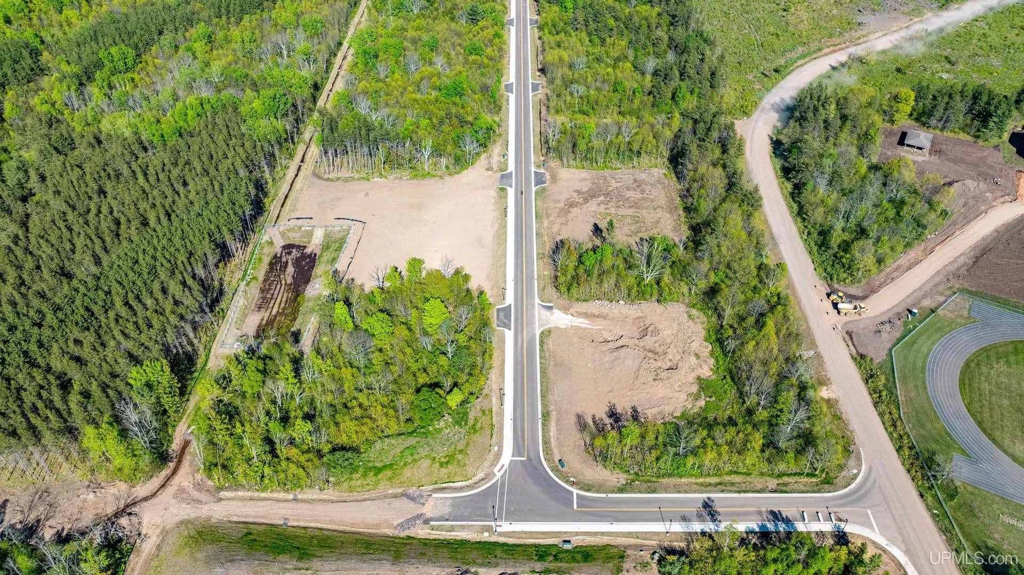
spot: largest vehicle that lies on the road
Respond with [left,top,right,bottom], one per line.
[839,301,871,314]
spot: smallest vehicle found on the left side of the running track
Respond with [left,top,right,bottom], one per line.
[827,291,852,303]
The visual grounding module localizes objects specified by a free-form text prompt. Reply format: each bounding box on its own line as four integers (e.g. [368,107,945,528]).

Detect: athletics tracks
[922,298,1024,504]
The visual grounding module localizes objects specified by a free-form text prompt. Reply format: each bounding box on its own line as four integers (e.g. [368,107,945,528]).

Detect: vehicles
[827,291,852,303]
[839,301,871,314]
